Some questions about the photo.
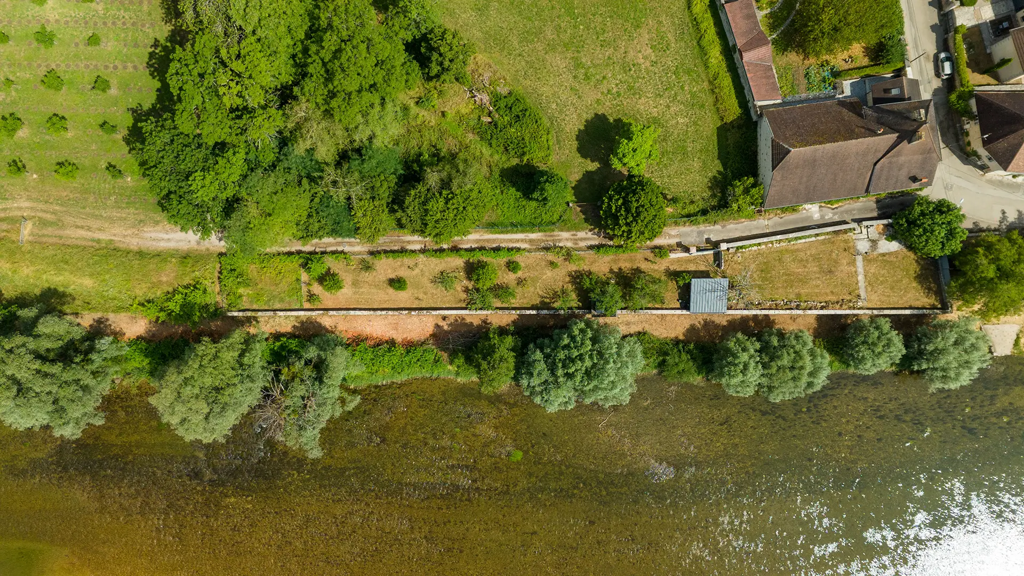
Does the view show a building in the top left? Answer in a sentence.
No, there's no building to be seen in the top left.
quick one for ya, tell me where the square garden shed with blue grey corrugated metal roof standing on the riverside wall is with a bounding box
[687,278,729,313]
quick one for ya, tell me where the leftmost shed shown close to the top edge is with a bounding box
[722,0,781,109]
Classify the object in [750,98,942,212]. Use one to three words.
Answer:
house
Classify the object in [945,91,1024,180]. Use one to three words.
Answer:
house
